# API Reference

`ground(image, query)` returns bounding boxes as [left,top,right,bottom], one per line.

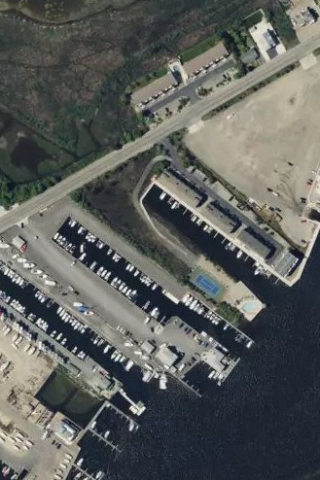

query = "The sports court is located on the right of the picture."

[189,270,225,303]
